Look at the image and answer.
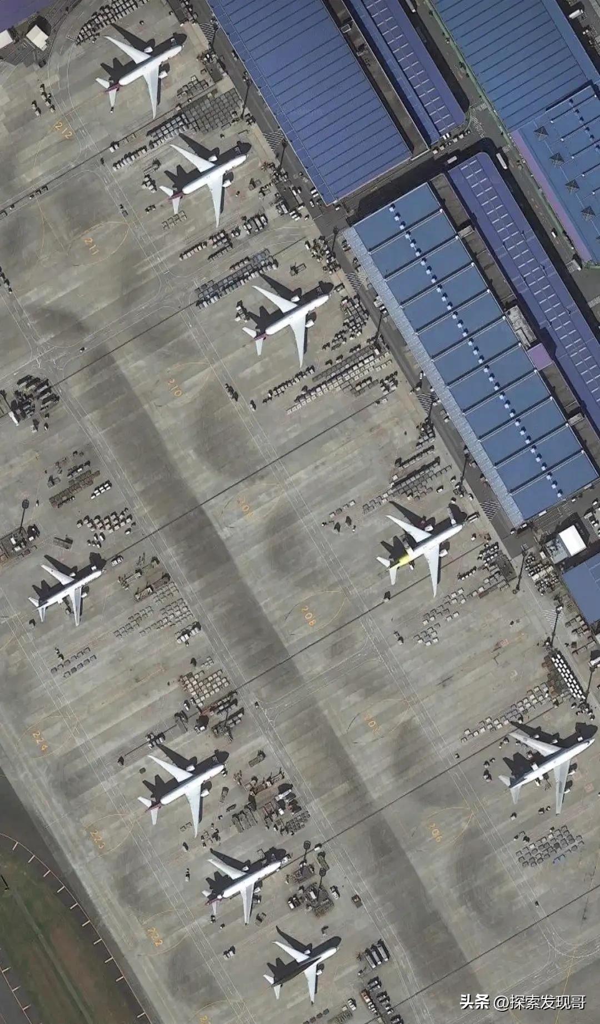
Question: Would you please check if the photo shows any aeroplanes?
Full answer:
Yes, I can see an aeroplane in this picture.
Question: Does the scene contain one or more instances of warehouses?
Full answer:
Yes, the frame does contain a warehouse.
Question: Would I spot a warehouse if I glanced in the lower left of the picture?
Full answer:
No, the scene shows no warehouse in the lower left of the picture.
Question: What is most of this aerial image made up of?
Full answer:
The bulk of the photo consists of paved ground.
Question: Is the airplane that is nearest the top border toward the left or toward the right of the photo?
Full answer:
You can find the airplane that is nearest the top border on the left side of the picture.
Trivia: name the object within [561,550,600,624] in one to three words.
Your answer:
building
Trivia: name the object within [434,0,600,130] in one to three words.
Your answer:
warehouse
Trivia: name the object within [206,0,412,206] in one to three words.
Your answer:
warehouse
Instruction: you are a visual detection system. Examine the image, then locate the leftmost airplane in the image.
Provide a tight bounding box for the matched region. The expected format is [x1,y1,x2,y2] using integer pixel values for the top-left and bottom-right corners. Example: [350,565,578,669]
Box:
[28,565,102,625]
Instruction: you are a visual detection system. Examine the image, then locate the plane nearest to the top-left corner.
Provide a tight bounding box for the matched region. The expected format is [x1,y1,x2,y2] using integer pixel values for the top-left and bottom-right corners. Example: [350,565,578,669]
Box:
[95,36,183,118]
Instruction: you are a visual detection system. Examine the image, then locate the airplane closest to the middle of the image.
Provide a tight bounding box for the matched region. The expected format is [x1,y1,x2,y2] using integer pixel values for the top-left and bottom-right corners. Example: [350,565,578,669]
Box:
[376,516,464,597]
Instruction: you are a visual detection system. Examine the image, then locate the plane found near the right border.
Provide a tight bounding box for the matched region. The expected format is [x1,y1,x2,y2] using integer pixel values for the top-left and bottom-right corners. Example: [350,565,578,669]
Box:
[498,733,591,815]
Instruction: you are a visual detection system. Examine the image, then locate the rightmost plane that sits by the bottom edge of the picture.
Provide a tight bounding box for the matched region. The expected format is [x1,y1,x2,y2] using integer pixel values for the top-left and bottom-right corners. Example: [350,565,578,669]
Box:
[262,943,335,1004]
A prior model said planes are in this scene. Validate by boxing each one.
[28,565,102,625]
[159,144,247,227]
[199,859,279,926]
[95,36,183,118]
[243,285,331,367]
[138,756,225,836]
[498,733,591,815]
[376,516,464,597]
[262,943,335,1004]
